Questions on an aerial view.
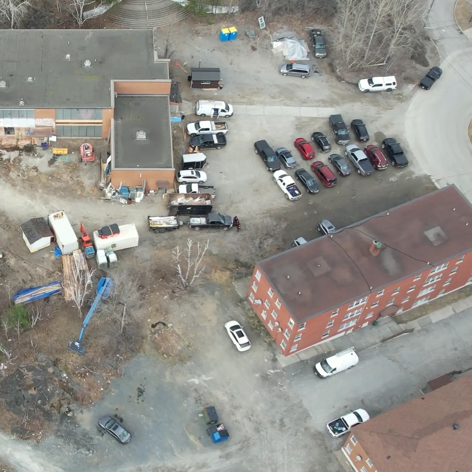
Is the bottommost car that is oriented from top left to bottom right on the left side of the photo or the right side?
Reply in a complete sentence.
You can find the bottommost car that is oriented from top left to bottom right on the left side of the picture.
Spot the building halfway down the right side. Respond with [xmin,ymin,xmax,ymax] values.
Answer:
[235,184,472,357]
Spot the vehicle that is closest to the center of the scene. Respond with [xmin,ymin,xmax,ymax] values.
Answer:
[186,214,239,233]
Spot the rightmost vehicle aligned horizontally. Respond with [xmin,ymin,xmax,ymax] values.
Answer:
[356,75,400,93]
